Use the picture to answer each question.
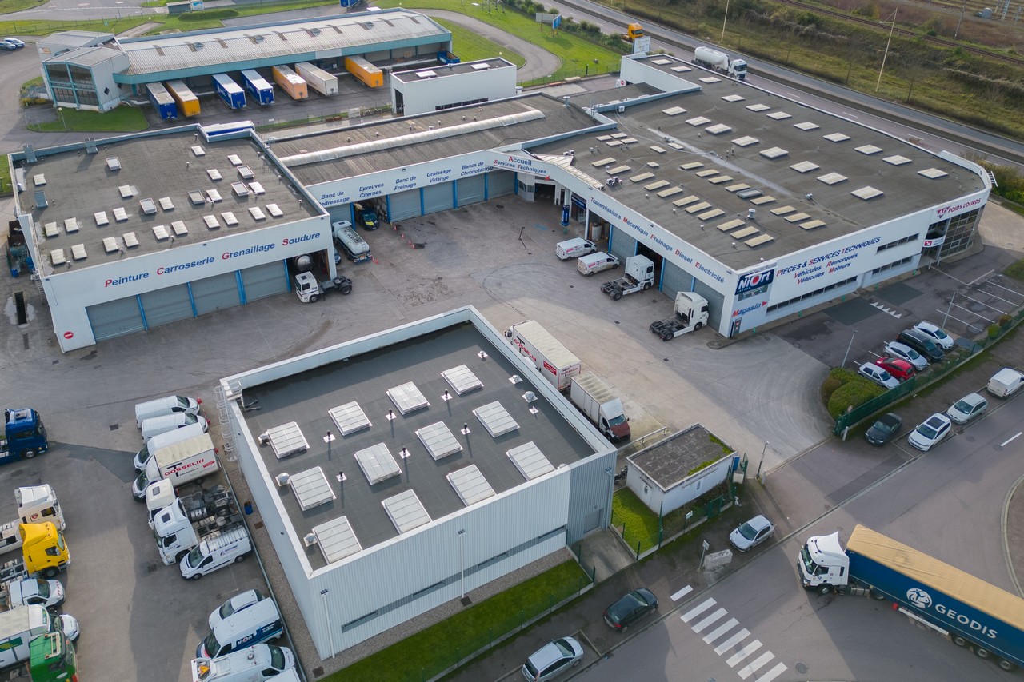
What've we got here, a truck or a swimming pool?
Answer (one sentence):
This aerial view contains a truck.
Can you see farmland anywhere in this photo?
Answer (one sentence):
No, the picture contains no farmland.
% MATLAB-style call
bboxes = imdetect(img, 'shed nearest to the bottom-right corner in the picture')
[624,425,738,517]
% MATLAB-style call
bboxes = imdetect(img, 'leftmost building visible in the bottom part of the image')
[208,305,618,659]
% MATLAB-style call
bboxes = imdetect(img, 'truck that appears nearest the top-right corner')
[693,42,754,78]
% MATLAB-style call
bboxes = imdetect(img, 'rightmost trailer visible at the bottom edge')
[846,525,1024,671]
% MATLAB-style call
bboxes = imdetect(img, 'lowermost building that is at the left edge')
[7,122,337,351]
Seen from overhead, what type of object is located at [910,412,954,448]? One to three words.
car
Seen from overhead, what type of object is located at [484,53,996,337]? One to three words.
building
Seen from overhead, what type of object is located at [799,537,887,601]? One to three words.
truck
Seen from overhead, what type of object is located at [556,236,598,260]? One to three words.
vehicle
